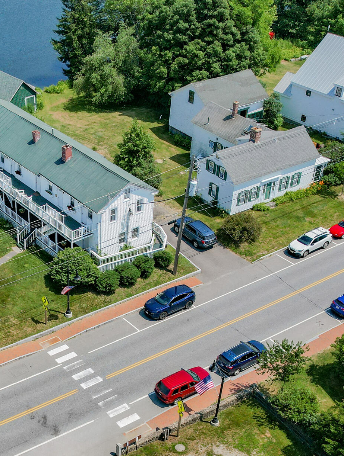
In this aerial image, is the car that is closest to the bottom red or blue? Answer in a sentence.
The car that is closest to the bottom looks red in the image.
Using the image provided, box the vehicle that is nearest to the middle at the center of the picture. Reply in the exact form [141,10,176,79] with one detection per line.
[171,219,222,249]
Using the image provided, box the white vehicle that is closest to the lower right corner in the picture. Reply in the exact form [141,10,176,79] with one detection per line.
[286,225,334,257]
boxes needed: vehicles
[331,223,344,243]
[143,285,198,321]
[151,367,211,406]
[286,225,334,257]
[171,219,222,249]
[211,341,266,377]
[328,293,344,321]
